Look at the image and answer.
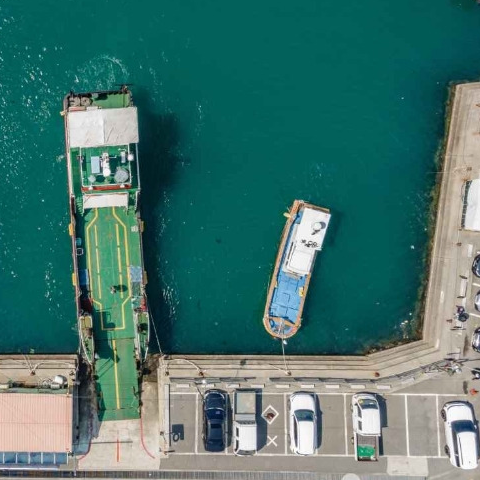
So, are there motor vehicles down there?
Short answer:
Yes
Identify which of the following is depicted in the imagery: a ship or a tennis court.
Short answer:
ship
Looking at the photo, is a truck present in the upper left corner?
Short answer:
No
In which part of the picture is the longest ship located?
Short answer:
left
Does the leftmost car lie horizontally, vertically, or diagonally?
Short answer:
vertically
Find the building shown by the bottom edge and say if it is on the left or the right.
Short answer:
left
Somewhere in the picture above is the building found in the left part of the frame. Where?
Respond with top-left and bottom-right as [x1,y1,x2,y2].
[0,385,73,469]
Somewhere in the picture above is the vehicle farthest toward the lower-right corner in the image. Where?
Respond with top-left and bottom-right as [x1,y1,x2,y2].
[441,399,480,470]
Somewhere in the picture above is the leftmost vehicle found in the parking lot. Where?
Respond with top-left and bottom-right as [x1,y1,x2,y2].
[202,387,230,452]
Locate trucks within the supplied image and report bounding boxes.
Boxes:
[232,389,261,456]
[352,393,384,461]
